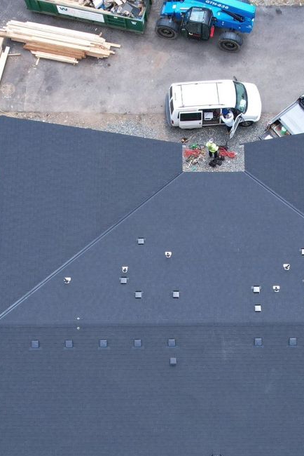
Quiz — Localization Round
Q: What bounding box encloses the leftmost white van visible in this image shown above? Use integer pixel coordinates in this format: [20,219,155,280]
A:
[163,78,264,141]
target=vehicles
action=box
[252,91,304,140]
[141,0,257,53]
[163,78,264,141]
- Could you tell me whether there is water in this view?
No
